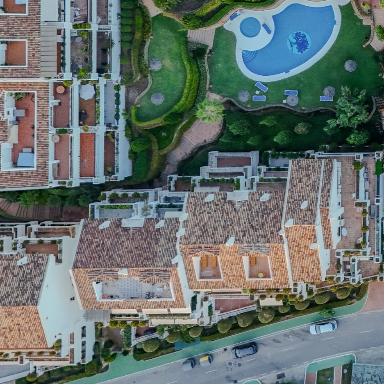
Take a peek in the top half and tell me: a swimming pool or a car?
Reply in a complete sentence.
It is a swimming pool that can be seen in the top half.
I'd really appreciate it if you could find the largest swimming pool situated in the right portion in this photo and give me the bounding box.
[241,3,336,76]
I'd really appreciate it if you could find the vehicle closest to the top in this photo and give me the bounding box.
[307,319,337,338]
